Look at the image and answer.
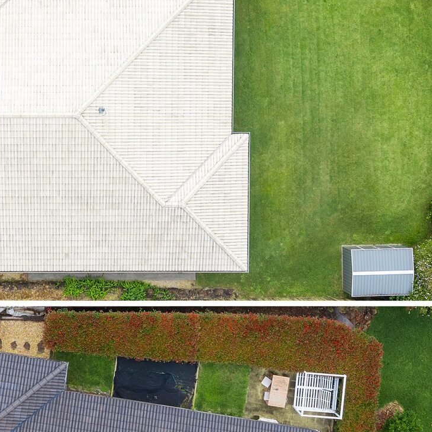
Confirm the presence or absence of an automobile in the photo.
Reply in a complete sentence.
No, I can't see a single automobile in this photo.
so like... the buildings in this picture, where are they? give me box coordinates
[0,0,251,274]
[0,351,316,432]
[343,244,416,297]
